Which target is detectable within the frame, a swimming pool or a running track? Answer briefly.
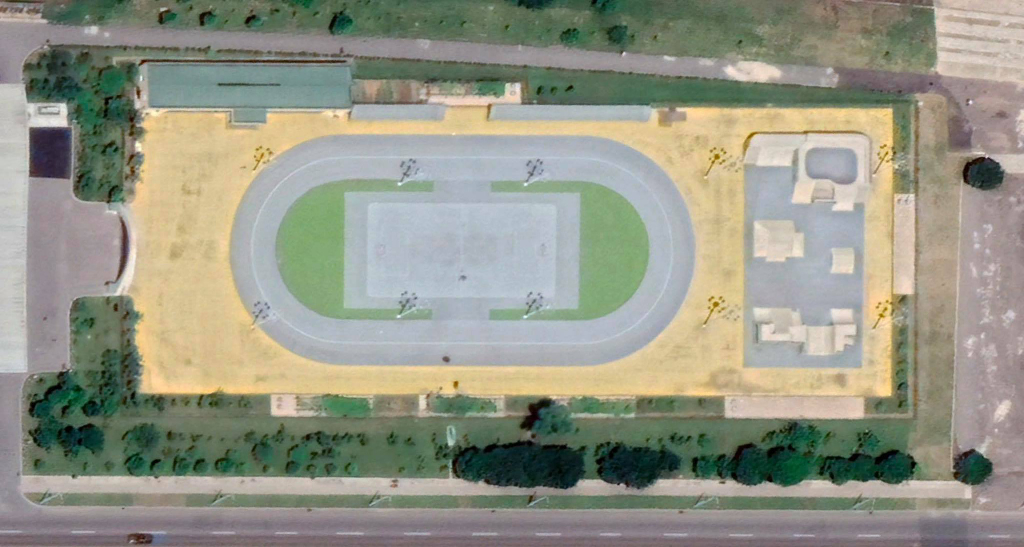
running track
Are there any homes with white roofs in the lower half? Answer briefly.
No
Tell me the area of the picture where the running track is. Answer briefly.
center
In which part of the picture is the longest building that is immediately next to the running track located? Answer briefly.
top left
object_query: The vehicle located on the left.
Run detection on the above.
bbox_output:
[128,533,152,545]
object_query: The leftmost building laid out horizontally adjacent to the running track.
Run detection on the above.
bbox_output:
[133,62,352,126]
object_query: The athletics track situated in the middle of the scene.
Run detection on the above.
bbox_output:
[231,134,695,366]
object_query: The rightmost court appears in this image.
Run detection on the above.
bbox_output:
[368,203,557,297]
